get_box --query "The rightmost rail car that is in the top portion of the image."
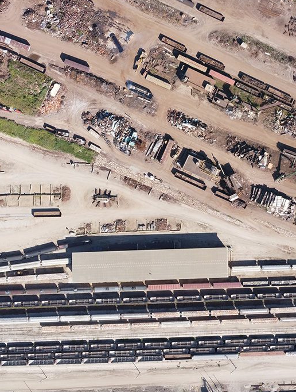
[210,70,235,84]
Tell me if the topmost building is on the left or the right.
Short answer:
right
